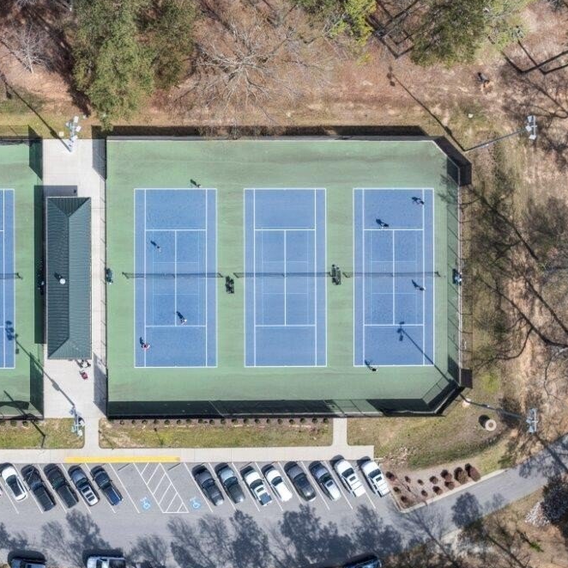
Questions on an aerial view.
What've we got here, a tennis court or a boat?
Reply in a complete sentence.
This aerial view contains a tennis court.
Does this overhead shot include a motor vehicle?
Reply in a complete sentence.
Yes, there is a motor vehicle in the image.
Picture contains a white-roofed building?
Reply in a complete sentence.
No, the frame has no white-roofed building in it.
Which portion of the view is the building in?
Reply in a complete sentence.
Look in the left portion of the view to spot the building.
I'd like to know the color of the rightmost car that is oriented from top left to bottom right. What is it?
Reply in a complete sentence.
The color of the rightmost car that is oriented from top left to bottom right is white.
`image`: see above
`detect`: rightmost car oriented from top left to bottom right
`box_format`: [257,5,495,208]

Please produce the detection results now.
[361,461,391,499]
